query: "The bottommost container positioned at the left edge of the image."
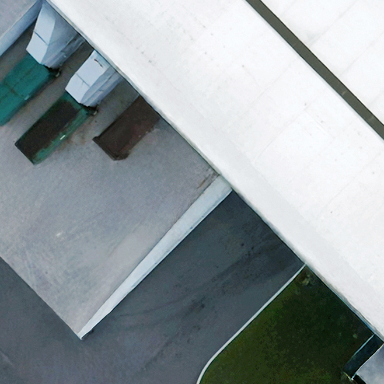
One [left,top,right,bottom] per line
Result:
[13,90,92,165]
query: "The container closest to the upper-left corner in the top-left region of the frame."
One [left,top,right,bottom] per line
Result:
[0,49,51,128]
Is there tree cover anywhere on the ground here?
No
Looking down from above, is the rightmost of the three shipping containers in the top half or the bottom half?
top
